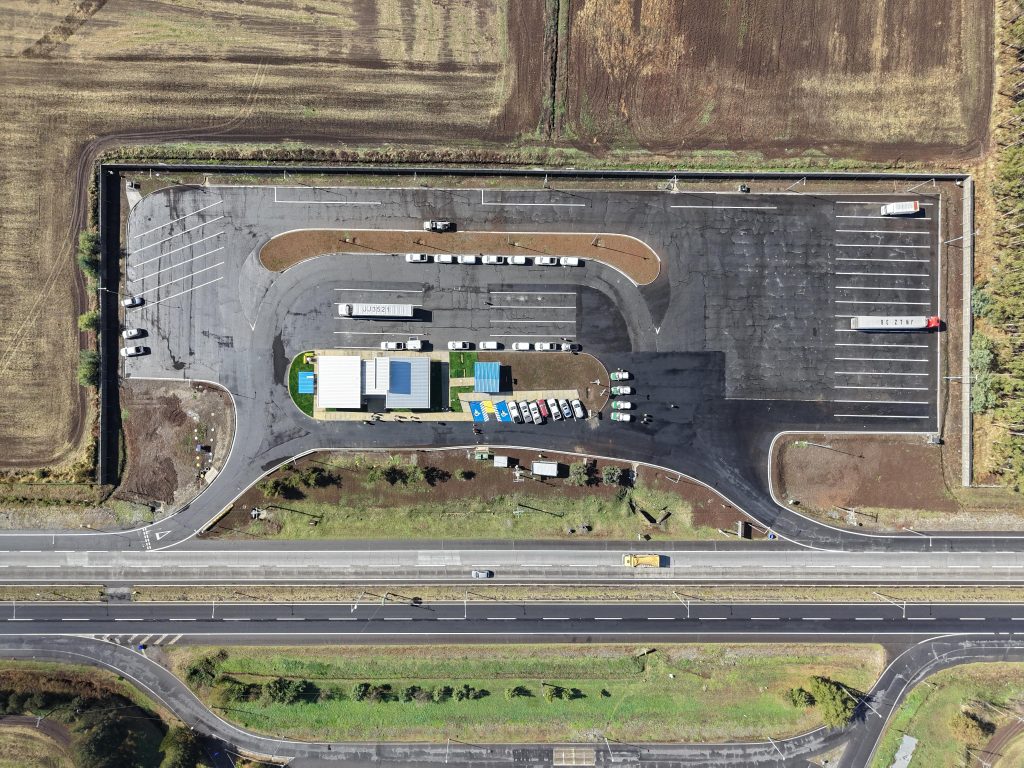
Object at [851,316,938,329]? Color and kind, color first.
white vehicle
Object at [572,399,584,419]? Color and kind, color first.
white vehicle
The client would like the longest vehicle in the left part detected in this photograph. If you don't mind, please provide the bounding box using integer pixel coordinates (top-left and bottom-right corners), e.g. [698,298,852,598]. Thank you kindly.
[340,304,413,317]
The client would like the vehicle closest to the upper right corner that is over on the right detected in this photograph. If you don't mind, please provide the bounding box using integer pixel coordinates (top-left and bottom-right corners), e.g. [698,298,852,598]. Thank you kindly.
[881,201,919,217]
